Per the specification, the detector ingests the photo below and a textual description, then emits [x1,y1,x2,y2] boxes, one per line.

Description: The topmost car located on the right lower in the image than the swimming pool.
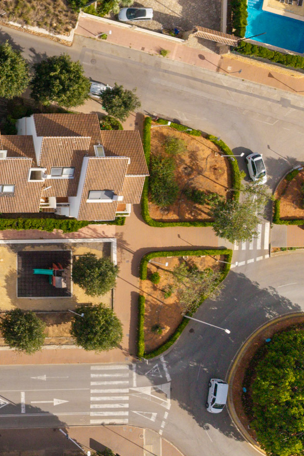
[243,152,267,185]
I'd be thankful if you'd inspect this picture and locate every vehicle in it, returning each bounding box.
[243,152,267,185]
[84,79,115,98]
[205,378,229,414]
[116,5,155,23]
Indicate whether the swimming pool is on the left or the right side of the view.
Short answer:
right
